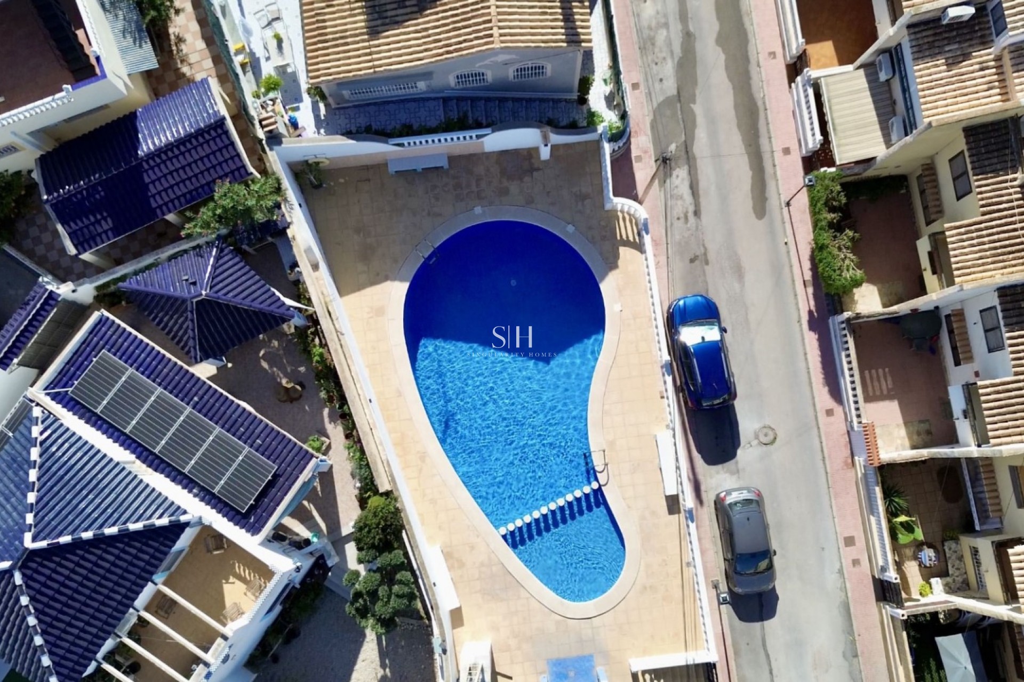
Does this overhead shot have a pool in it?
Yes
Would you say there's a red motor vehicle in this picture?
No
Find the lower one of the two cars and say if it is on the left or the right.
right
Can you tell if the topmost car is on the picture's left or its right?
right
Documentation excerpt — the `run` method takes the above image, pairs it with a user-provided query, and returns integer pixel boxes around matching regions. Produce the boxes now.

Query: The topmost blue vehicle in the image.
[666,295,734,412]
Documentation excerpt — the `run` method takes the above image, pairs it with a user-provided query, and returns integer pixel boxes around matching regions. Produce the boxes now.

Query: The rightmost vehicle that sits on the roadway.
[712,485,781,599]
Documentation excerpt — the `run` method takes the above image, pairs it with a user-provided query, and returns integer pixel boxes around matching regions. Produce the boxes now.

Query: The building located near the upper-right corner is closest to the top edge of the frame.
[875,0,934,35]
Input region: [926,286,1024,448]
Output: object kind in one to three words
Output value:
house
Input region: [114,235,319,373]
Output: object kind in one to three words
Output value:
gazebo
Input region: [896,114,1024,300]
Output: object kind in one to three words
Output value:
house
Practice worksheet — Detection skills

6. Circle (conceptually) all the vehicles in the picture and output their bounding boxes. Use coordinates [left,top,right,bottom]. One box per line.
[666,295,734,412]
[712,485,781,599]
